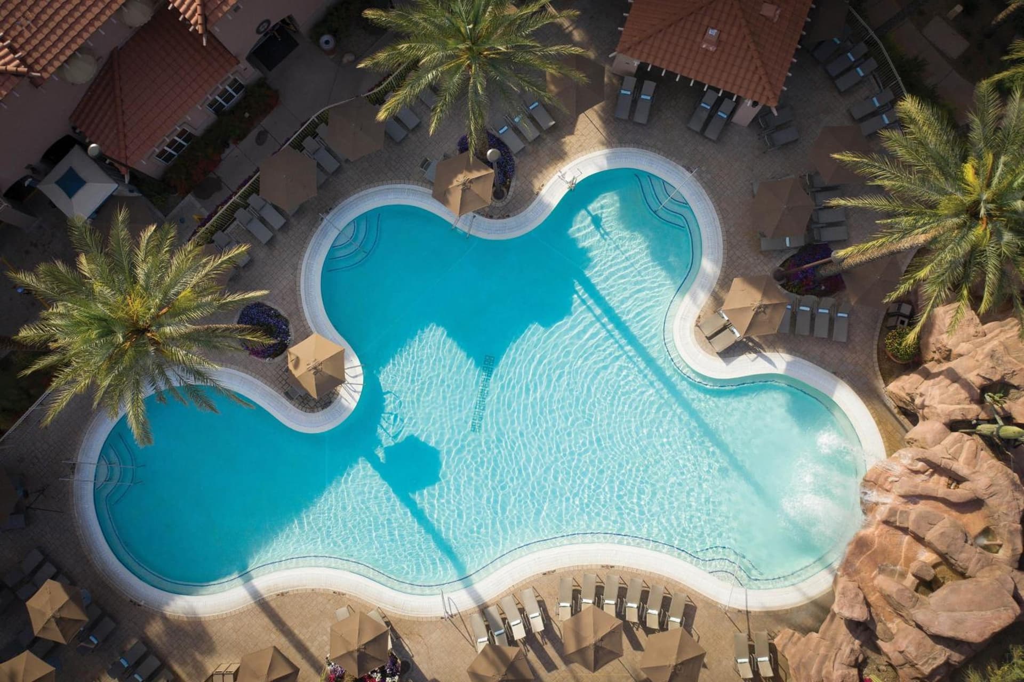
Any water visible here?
Yes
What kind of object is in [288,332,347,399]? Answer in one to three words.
umbrella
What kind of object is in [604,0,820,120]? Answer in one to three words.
building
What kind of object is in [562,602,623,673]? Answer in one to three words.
umbrella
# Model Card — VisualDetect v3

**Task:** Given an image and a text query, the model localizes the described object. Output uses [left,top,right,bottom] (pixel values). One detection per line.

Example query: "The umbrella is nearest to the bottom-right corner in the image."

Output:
[637,624,707,682]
